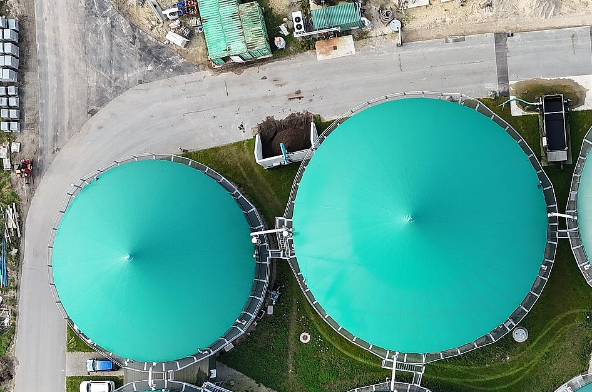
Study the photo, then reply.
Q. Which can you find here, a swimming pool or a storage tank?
storage tank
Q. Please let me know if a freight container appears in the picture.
Yes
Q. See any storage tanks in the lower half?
Yes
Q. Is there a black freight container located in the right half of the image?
Yes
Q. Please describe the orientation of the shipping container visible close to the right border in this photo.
up and down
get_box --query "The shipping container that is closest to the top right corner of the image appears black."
[539,94,572,169]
